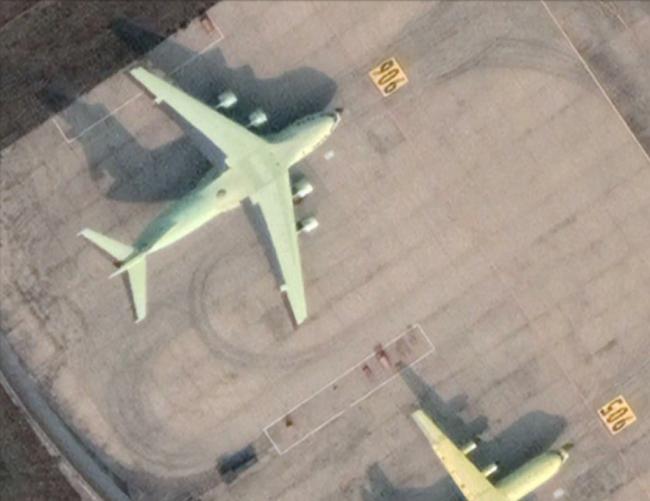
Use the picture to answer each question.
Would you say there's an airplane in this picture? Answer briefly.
Yes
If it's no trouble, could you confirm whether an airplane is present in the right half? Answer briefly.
Yes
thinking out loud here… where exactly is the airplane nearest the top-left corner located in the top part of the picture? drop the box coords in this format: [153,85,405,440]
[76,67,342,326]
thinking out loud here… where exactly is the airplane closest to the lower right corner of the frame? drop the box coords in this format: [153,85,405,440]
[415,412,571,501]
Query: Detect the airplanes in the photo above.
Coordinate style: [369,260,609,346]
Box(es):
[76,67,342,326]
[415,412,571,501]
